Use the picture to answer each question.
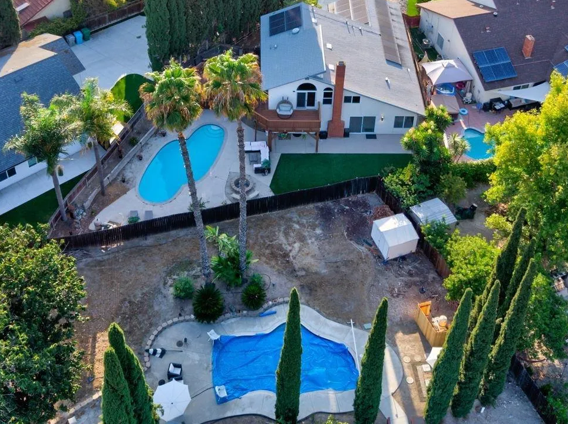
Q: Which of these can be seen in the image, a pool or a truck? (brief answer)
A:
pool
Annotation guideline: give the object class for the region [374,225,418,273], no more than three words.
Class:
shed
